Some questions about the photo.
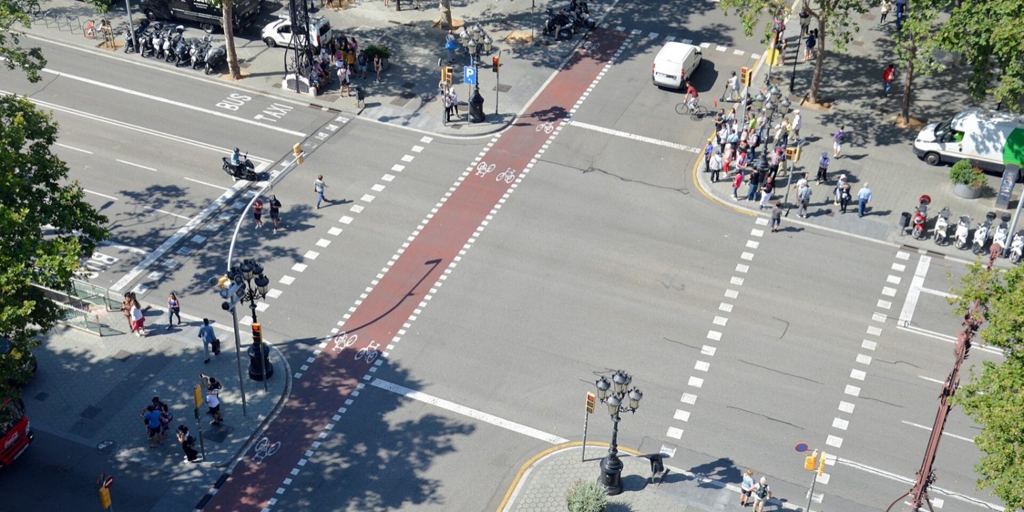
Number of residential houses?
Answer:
0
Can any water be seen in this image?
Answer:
No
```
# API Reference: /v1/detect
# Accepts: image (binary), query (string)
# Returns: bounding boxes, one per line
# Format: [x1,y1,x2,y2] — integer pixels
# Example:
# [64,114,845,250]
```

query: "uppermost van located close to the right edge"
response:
[909,106,1024,183]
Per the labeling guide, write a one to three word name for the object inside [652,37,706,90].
van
